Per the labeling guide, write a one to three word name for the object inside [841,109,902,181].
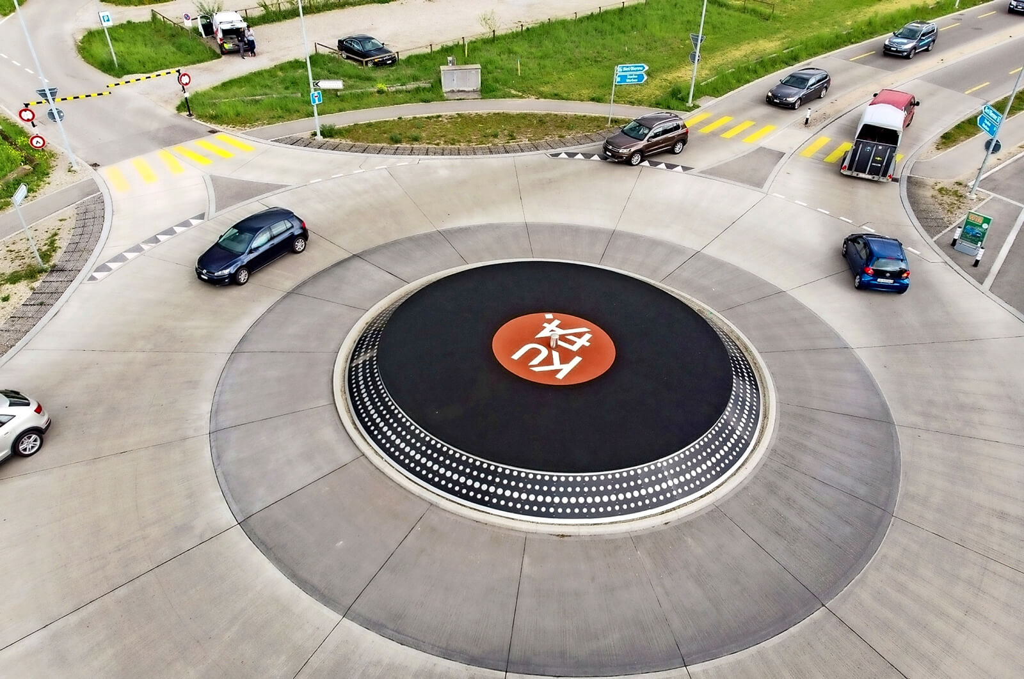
trailer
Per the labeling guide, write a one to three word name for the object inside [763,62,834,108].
car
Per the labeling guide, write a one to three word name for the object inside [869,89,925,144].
van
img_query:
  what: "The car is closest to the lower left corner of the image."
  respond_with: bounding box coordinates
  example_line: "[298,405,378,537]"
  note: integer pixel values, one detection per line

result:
[0,388,45,463]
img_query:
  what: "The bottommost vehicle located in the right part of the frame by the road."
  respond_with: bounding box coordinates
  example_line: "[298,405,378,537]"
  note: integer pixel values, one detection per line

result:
[844,233,914,294]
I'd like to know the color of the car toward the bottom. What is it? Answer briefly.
white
